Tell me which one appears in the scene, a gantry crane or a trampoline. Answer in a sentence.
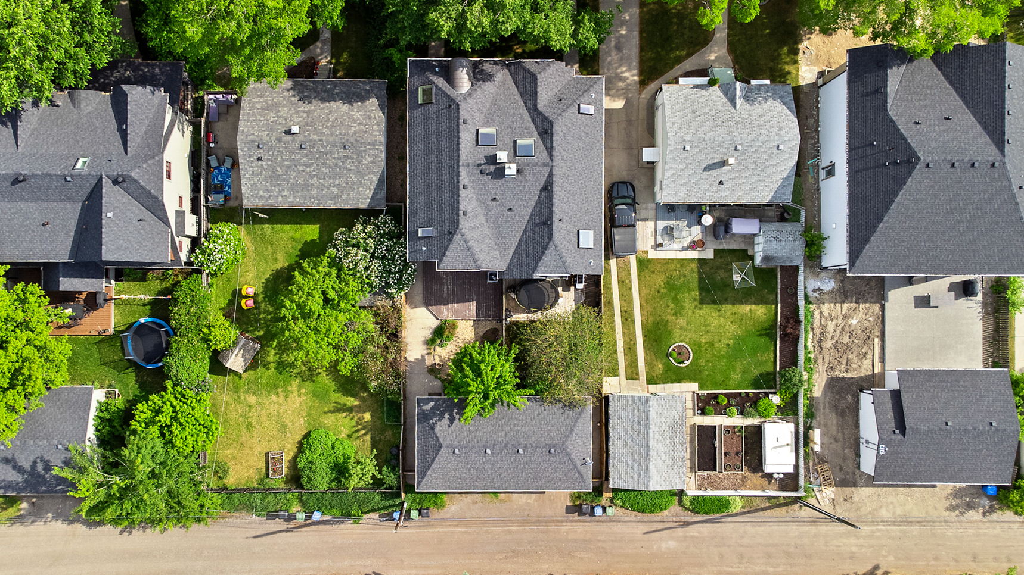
This aerial view contains a trampoline.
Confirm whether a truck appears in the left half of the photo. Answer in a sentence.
No, the scene shows no truck in the left half of the photo.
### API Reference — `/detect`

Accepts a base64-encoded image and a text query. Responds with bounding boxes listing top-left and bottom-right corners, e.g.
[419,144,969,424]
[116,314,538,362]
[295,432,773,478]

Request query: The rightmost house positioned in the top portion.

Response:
[817,37,1024,276]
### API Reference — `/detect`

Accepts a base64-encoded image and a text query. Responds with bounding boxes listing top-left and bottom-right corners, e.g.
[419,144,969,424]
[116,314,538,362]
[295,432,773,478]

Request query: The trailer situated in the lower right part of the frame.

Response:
[759,421,794,485]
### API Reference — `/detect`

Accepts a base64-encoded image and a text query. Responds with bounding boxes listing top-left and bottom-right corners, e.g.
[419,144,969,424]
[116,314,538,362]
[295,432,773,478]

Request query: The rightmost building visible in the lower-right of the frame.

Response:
[860,368,1020,486]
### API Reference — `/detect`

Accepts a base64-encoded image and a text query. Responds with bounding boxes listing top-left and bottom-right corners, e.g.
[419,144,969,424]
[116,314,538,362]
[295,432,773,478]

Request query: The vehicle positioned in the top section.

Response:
[607,181,640,258]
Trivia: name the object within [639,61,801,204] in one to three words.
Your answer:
house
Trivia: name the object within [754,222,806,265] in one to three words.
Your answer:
shed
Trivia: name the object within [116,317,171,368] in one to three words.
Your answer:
trampoline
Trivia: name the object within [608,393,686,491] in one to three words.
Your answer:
building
